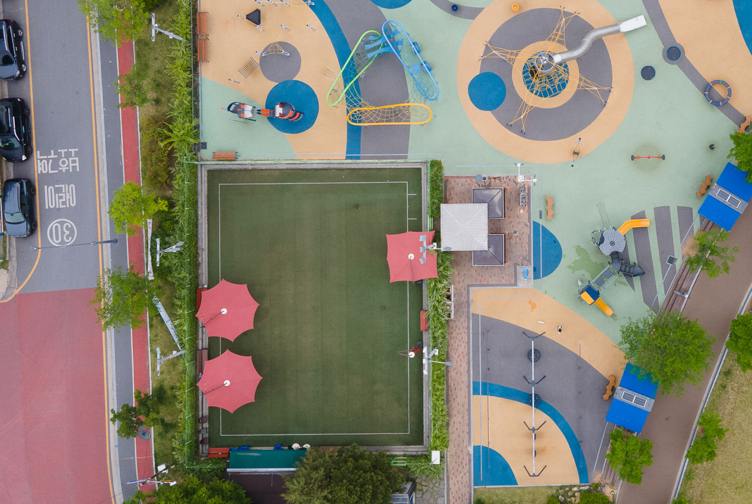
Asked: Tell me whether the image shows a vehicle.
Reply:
Yes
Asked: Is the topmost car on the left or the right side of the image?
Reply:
left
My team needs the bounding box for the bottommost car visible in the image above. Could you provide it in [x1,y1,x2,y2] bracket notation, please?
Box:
[2,179,37,237]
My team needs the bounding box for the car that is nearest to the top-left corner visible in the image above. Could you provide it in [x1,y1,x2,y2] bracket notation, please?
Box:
[0,19,26,81]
